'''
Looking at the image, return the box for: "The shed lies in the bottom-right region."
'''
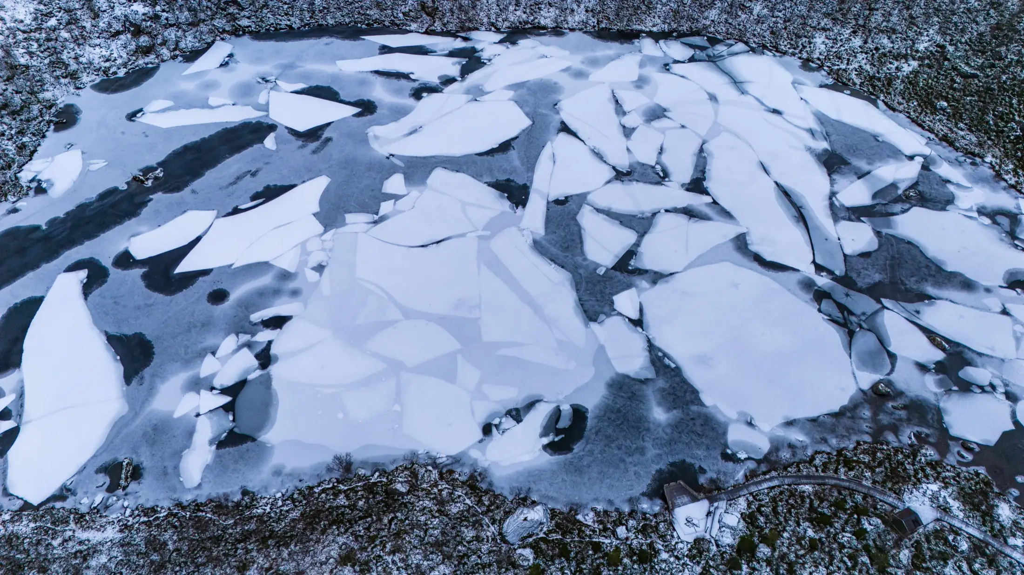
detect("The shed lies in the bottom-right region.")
[886,508,924,538]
